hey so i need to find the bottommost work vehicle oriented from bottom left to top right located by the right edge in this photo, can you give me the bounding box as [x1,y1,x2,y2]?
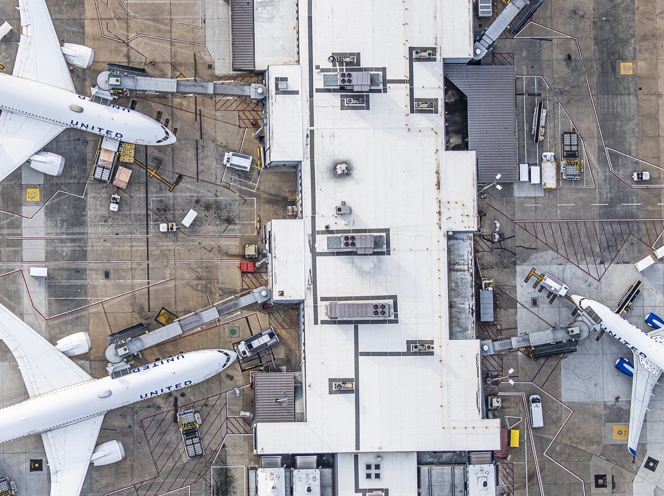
[614,276,643,316]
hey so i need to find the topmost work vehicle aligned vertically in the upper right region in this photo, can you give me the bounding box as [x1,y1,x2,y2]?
[530,99,544,145]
